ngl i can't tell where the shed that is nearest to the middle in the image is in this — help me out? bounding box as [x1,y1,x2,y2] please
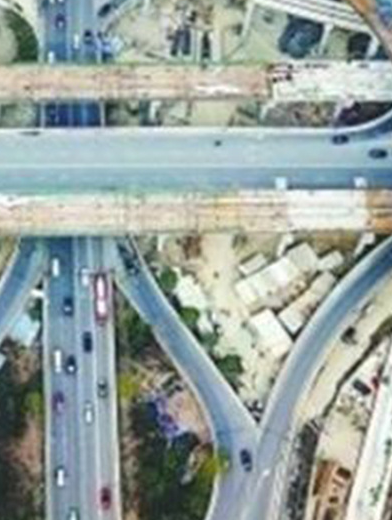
[176,277,207,309]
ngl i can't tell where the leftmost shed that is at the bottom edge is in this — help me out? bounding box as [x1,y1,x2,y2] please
[312,460,335,497]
